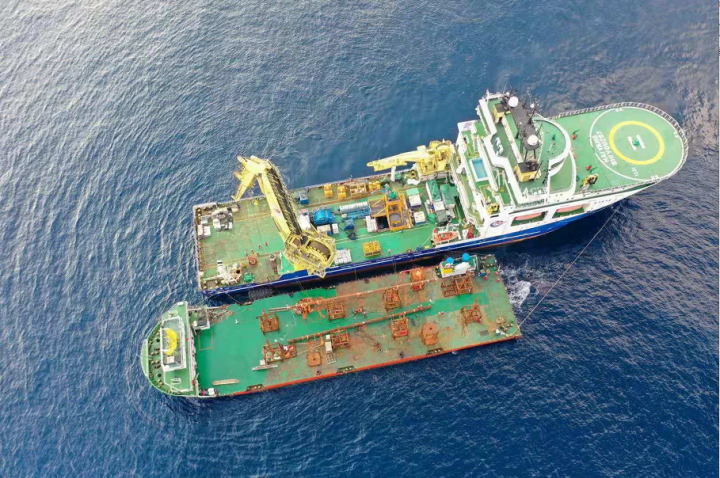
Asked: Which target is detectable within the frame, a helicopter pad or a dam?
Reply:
helicopter pad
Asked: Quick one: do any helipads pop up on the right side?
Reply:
Yes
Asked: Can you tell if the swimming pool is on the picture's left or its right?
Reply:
right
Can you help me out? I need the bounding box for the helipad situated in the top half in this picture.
[553,101,690,194]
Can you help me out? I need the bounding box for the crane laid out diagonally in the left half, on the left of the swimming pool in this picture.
[227,148,334,281]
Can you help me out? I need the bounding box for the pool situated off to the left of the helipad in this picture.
[468,154,489,183]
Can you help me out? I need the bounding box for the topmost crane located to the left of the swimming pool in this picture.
[366,148,451,192]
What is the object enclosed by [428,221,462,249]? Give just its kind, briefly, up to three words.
boat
